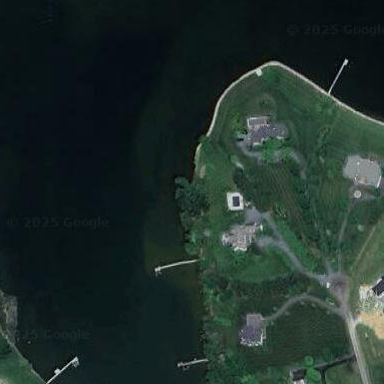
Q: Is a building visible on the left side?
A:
No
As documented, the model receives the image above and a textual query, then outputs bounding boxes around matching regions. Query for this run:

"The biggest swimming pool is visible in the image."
[227,192,243,210]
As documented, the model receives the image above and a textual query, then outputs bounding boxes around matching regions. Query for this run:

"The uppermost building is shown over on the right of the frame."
[247,115,287,146]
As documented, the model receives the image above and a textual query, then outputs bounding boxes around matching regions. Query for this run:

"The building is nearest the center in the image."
[222,222,258,252]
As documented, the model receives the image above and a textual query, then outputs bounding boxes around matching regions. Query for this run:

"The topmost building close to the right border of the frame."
[340,155,384,187]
